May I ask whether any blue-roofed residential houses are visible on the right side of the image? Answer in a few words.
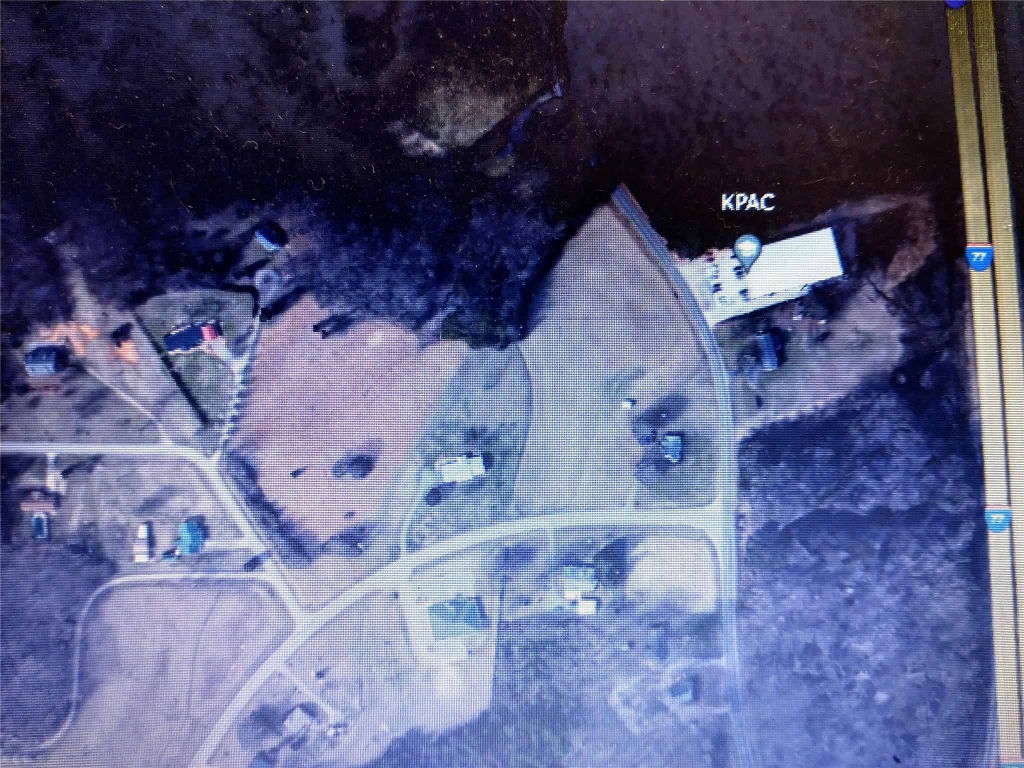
Yes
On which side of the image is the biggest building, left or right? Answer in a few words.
right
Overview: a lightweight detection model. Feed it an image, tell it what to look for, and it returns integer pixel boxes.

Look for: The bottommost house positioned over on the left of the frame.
[284,707,312,735]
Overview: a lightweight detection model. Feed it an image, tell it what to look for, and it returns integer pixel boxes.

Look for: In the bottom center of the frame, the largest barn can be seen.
[428,598,486,641]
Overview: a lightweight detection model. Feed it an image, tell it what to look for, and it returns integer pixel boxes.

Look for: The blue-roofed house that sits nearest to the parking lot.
[758,332,785,371]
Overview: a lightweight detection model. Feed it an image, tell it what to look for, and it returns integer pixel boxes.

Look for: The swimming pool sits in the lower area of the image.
[33,513,48,539]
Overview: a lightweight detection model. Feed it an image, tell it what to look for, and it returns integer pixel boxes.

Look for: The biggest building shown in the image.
[745,228,844,297]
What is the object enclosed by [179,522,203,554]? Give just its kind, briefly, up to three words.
barn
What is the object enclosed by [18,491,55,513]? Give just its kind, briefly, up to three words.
house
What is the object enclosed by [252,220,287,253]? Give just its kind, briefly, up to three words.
house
